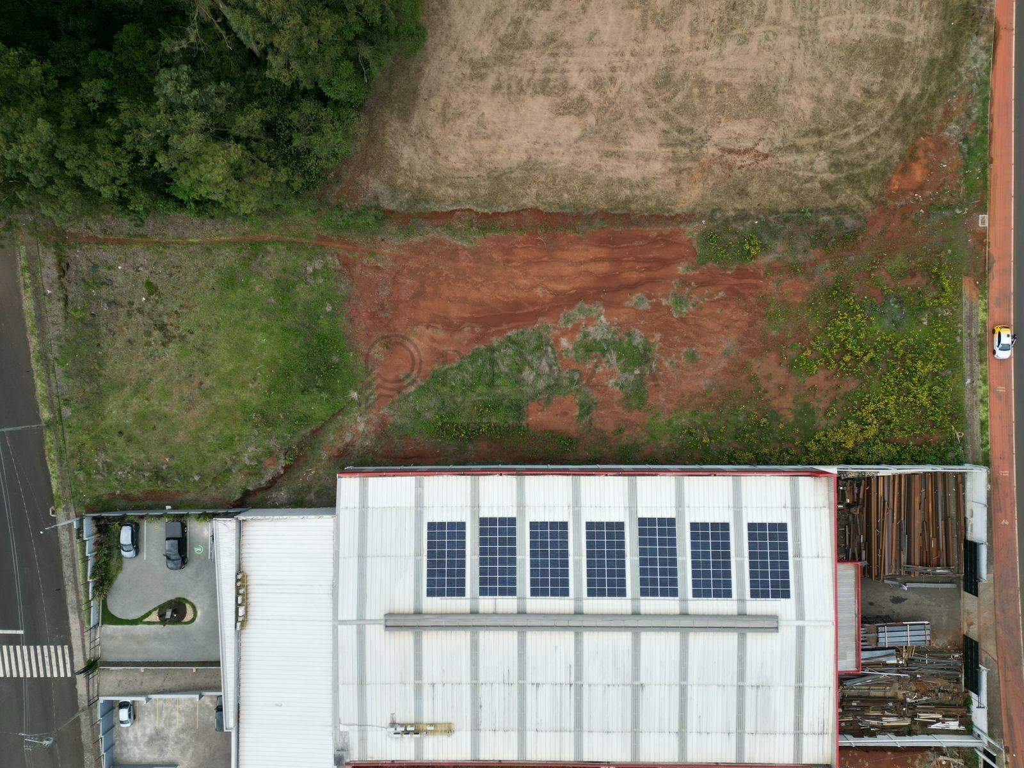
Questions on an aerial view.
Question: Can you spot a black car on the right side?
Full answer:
No, the scene shows no black car on the right side.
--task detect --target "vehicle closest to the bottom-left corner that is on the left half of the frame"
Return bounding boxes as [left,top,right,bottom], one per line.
[115,703,136,729]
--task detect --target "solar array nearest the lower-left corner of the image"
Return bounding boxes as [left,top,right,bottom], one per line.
[427,520,466,598]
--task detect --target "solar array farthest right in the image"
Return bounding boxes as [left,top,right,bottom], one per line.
[748,521,790,600]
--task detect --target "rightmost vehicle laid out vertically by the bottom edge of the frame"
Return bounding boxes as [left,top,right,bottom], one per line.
[213,697,232,736]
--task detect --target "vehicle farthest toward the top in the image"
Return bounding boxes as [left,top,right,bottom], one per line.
[991,324,1019,359]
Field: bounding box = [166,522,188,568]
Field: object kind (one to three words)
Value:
truck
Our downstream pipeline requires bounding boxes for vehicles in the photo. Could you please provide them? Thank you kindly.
[118,523,139,558]
[115,703,136,729]
[213,697,232,736]
[166,522,188,568]
[991,324,1019,359]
